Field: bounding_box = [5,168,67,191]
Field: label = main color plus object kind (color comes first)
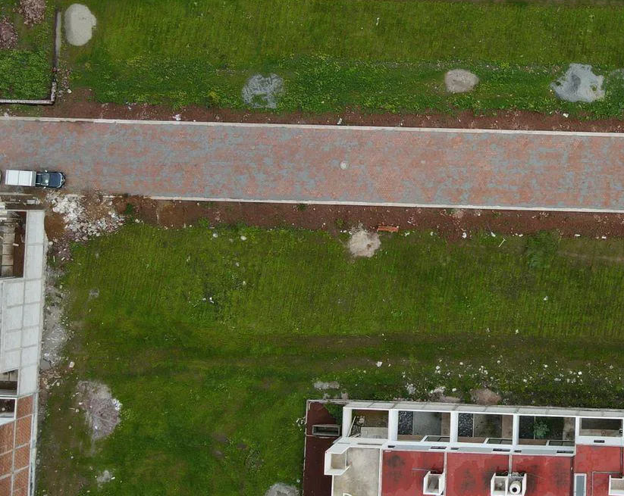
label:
white truck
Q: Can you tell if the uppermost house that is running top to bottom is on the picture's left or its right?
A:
left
